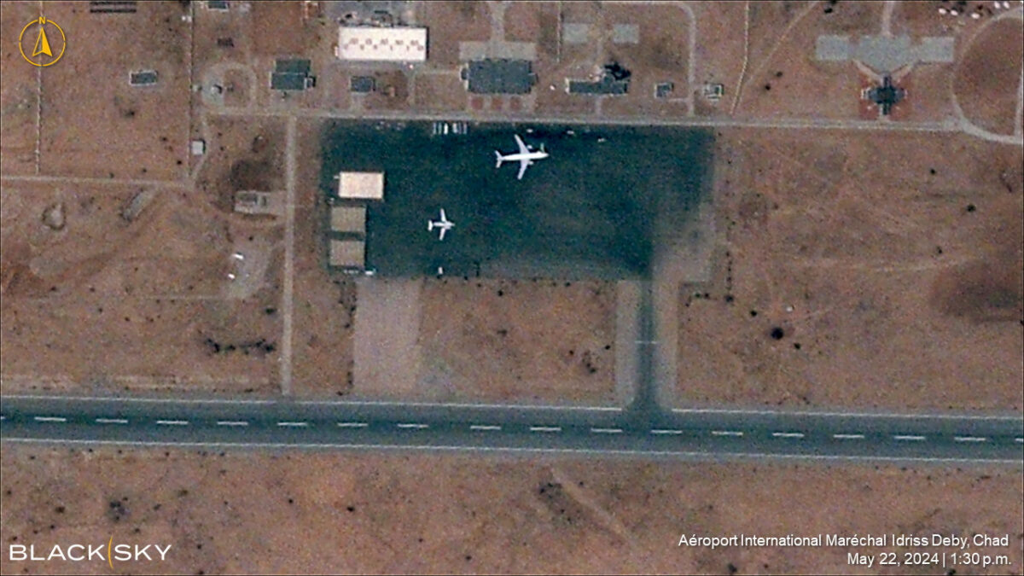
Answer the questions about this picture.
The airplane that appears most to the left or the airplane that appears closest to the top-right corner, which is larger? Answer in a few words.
the airplane that appears closest to the top-right corner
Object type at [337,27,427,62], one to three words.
hangar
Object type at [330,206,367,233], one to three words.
hangar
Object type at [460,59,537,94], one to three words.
building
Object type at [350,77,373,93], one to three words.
house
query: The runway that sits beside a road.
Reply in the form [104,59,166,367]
[0,384,1024,475]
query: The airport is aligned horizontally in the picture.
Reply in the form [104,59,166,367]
[0,122,1024,475]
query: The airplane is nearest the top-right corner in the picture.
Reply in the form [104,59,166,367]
[497,136,549,180]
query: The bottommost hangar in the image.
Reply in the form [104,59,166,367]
[329,240,366,267]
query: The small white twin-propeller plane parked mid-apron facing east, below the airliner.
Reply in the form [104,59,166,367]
[429,210,455,240]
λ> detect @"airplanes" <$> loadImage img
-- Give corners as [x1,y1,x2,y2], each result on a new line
[497,136,549,180]
[429,210,455,240]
